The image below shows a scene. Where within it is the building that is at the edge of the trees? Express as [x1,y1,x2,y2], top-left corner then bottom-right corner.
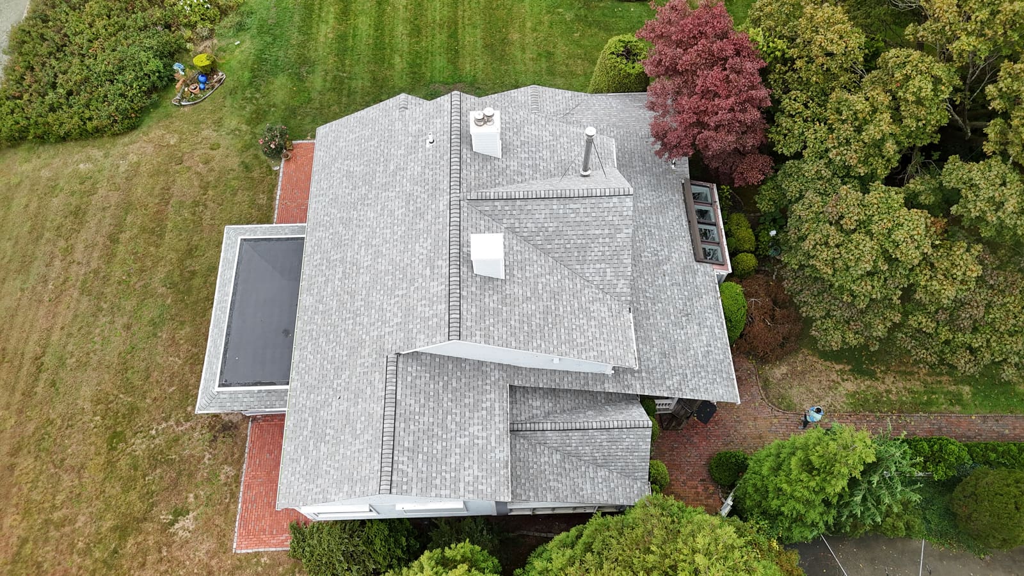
[192,85,741,522]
